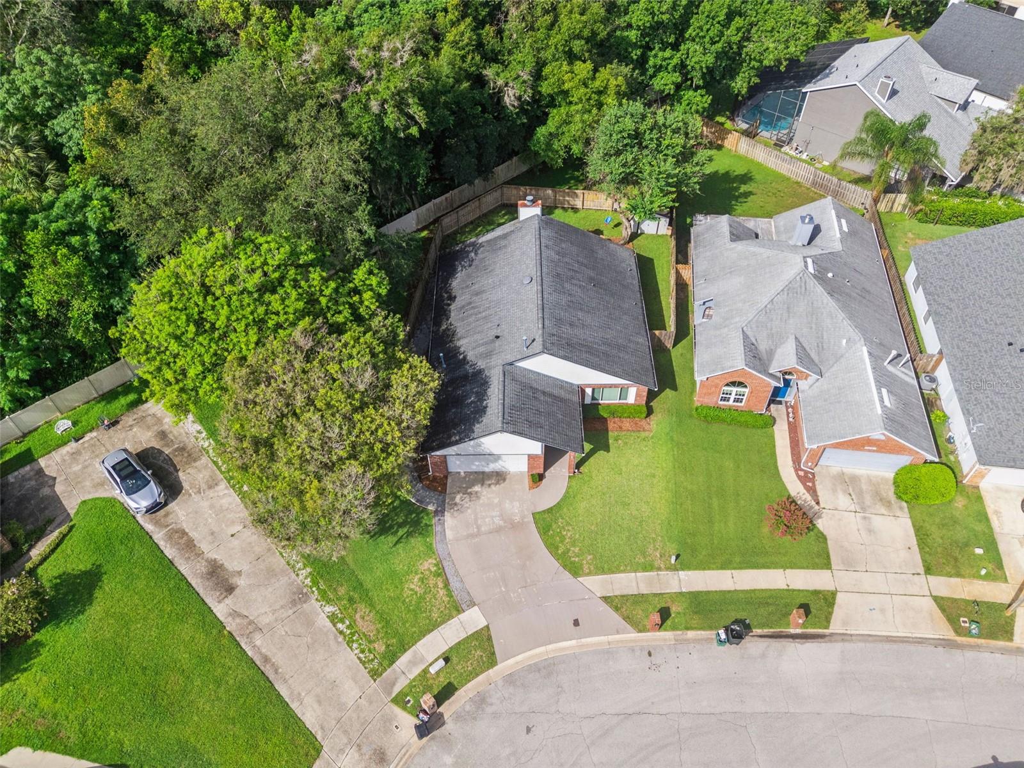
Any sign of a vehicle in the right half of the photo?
No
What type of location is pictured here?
residential area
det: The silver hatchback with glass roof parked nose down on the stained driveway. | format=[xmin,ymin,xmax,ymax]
[104,451,165,516]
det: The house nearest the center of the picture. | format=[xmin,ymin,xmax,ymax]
[419,192,659,479]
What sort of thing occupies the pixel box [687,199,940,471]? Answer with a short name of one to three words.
house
